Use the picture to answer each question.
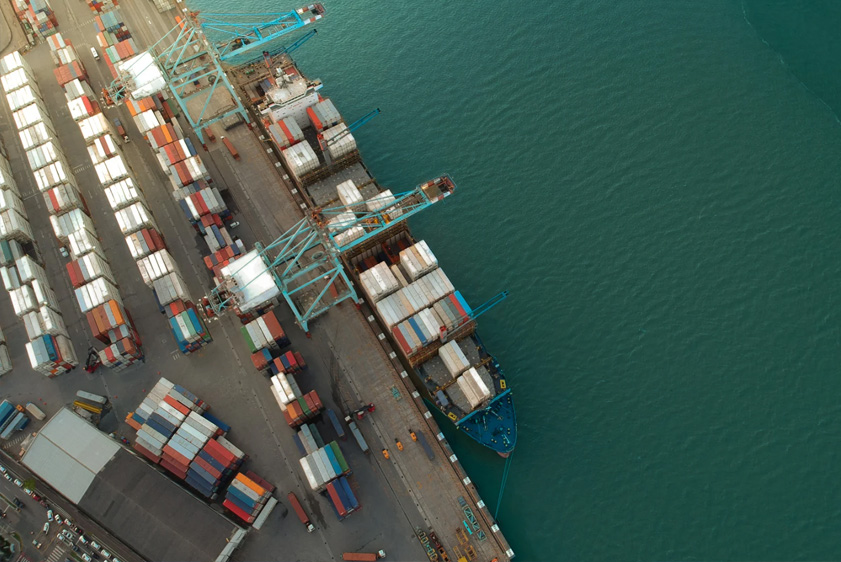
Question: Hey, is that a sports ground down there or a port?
port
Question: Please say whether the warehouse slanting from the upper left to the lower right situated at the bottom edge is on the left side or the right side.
left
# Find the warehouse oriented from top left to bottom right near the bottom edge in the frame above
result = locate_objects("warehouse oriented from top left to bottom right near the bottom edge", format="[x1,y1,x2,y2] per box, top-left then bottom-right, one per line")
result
[19,407,252,562]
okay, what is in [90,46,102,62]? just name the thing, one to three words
vehicle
